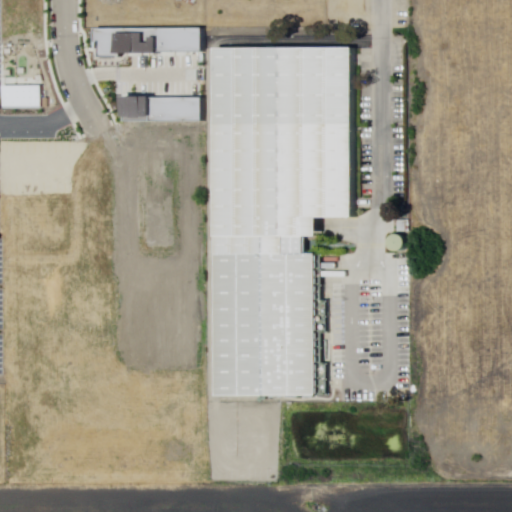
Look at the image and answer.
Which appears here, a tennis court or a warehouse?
warehouse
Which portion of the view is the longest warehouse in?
center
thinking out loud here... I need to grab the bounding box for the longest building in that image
[209,46,350,397]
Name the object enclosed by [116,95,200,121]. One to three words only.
building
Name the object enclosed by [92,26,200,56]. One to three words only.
building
